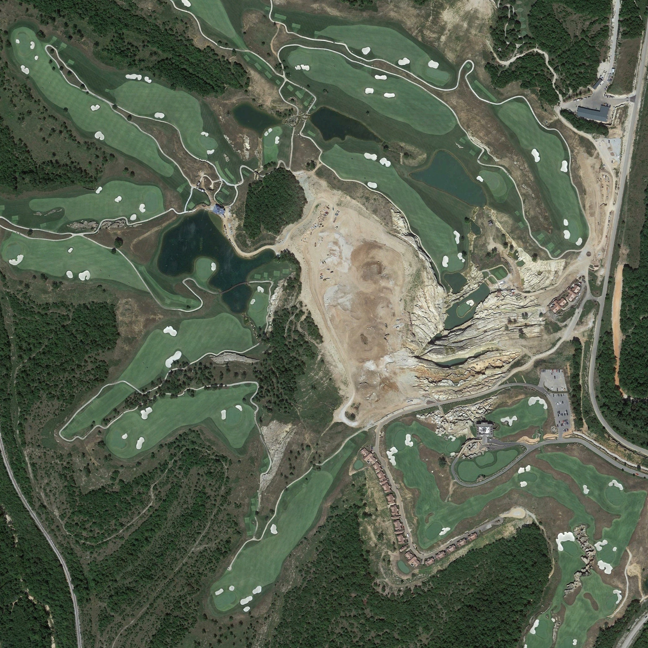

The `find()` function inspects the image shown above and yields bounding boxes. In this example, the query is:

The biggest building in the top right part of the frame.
[577,101,610,121]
